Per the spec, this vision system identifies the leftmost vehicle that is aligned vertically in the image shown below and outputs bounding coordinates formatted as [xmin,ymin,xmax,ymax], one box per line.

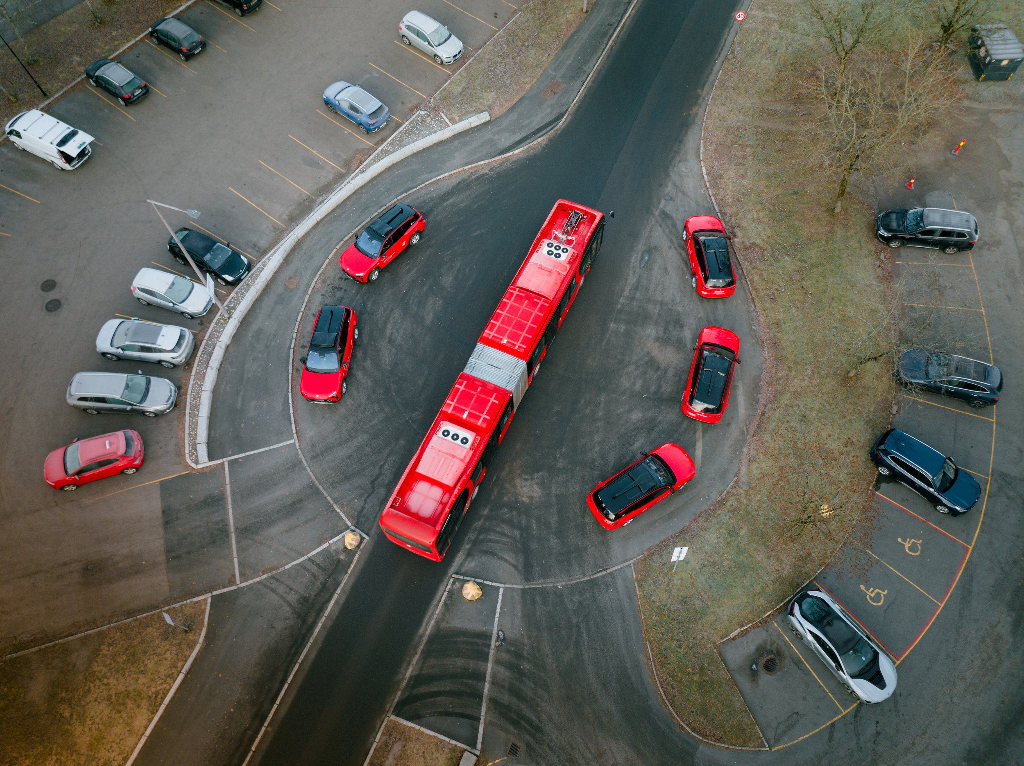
[298,308,358,412]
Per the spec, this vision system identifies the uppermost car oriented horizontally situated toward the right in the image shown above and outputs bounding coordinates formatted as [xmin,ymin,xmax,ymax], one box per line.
[878,205,980,254]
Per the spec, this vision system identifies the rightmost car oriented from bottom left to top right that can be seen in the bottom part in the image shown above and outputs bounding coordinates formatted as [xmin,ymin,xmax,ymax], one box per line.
[586,443,701,530]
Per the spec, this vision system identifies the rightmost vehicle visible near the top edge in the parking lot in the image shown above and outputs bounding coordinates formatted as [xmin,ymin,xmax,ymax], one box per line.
[400,10,466,64]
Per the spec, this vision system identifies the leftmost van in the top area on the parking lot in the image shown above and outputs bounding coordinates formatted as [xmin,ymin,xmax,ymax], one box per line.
[6,110,94,172]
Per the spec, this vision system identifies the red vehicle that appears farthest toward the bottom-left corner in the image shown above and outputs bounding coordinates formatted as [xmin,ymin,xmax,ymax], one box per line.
[42,431,144,491]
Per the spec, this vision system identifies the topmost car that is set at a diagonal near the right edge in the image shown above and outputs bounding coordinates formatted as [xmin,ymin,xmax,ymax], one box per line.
[869,428,987,519]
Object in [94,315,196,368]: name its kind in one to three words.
car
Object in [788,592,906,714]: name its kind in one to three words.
car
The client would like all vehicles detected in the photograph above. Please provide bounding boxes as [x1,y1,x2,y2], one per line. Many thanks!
[94,315,196,368]
[878,205,980,254]
[42,431,144,491]
[148,17,210,61]
[586,443,701,530]
[788,592,906,714]
[63,369,176,417]
[895,347,1011,408]
[382,202,617,563]
[681,325,741,427]
[219,0,266,15]
[400,10,466,64]
[126,265,218,319]
[85,58,150,106]
[869,428,987,519]
[684,215,739,303]
[167,228,252,286]
[6,110,94,172]
[336,204,425,289]
[298,308,358,412]
[325,83,393,134]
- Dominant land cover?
paved ground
